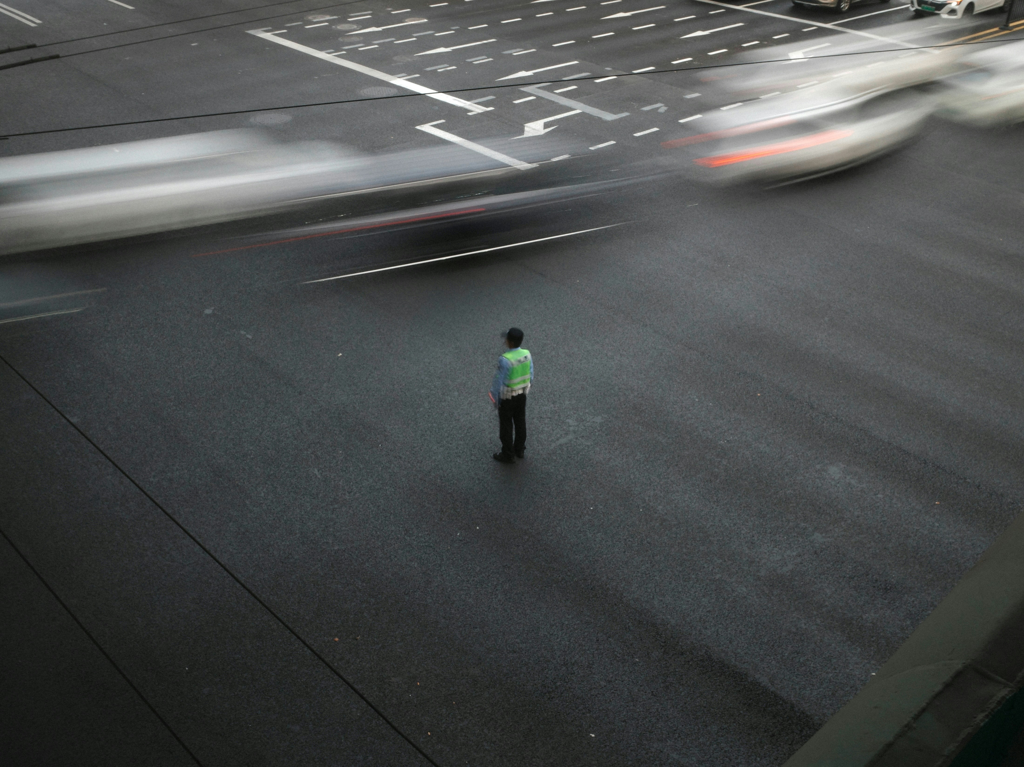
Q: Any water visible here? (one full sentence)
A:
No, there's no water in this view.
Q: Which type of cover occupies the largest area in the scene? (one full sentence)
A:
The scene is dominated by paved ground.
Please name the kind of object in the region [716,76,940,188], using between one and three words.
car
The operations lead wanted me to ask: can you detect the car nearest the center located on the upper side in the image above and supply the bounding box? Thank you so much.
[320,152,614,276]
